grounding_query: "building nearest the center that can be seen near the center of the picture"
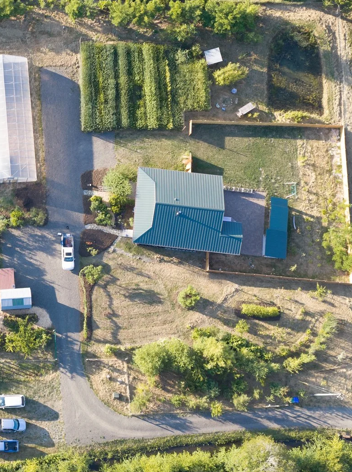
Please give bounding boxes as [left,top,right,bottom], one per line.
[134,167,244,255]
